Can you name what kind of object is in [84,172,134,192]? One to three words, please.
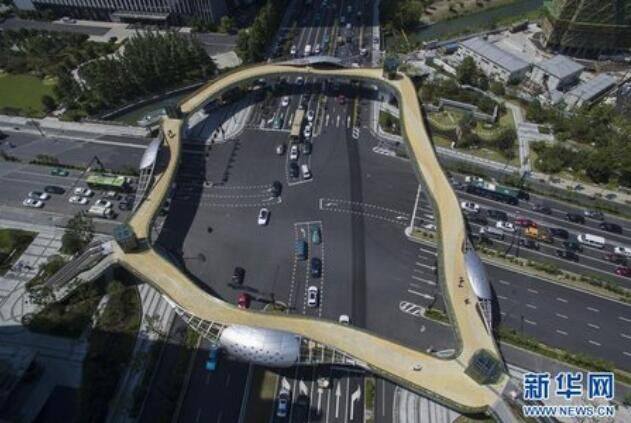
vehicle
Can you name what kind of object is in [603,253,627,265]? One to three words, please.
vehicle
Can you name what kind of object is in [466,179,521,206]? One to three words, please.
bus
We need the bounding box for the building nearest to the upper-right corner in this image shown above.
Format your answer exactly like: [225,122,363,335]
[545,0,631,54]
